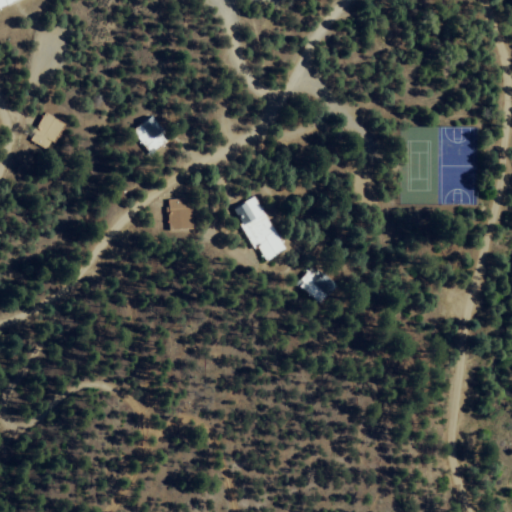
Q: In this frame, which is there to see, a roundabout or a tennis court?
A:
tennis court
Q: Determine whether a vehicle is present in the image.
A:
No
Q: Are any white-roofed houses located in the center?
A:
Yes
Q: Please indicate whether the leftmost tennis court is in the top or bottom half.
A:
top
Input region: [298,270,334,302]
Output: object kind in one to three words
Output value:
house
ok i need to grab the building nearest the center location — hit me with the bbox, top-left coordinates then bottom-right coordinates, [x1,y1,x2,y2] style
[235,196,286,260]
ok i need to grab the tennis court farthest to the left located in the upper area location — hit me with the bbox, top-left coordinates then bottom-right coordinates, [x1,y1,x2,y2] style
[401,128,438,204]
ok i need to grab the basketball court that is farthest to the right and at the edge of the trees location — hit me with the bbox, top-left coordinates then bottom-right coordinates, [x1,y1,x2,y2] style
[438,128,477,204]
